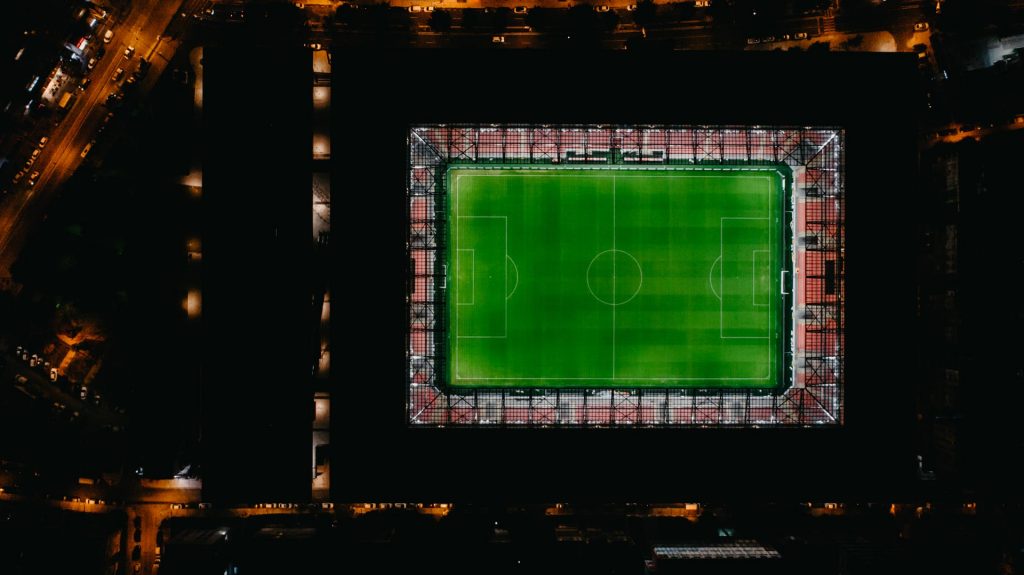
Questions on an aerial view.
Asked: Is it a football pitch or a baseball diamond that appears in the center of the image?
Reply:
football pitch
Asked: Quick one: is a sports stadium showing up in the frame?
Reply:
Yes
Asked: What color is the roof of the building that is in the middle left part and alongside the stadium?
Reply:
black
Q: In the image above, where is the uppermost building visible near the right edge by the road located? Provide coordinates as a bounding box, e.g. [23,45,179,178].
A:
[938,153,1020,212]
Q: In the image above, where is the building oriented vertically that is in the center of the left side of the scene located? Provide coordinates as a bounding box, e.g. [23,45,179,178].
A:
[203,50,313,502]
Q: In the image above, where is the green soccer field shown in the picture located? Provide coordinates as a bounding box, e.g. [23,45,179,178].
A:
[435,158,791,395]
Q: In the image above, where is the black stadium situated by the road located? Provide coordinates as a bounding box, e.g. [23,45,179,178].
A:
[329,50,918,503]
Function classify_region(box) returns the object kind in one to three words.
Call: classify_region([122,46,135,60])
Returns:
vehicle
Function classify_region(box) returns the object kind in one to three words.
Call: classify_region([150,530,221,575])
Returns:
shed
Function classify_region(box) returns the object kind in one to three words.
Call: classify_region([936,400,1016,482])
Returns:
building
